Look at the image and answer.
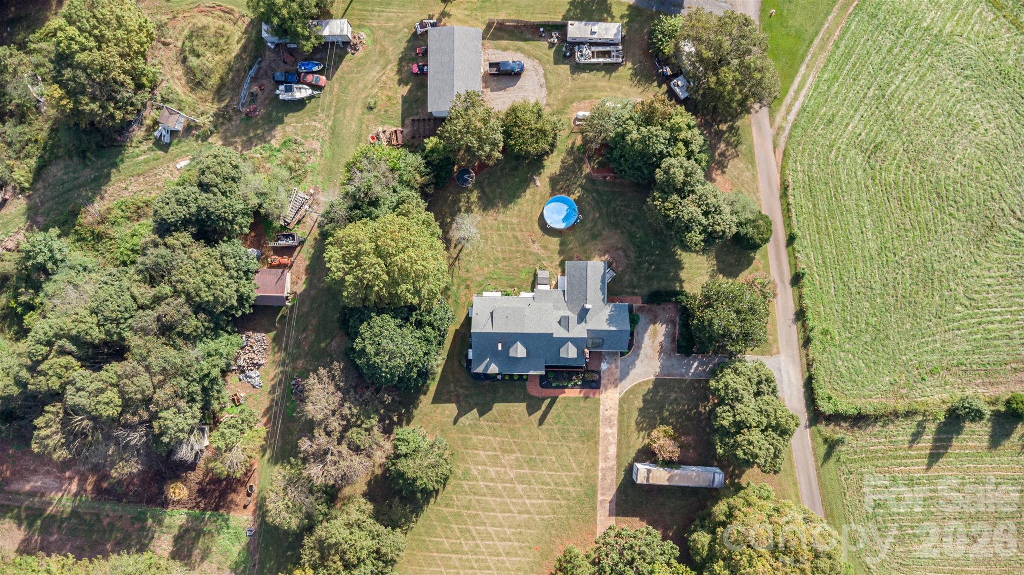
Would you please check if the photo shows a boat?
Yes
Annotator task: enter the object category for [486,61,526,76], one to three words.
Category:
vehicle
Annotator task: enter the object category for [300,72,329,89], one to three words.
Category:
car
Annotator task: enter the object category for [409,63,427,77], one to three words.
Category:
car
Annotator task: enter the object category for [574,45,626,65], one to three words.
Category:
boat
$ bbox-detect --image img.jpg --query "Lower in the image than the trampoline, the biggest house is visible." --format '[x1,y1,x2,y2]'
[468,261,630,375]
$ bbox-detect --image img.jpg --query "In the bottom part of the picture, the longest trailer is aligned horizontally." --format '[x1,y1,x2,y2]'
[630,460,726,487]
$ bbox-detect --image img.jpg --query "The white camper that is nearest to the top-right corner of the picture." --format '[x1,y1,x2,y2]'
[566,23,625,46]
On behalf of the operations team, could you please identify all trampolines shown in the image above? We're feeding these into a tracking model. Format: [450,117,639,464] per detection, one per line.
[456,168,475,186]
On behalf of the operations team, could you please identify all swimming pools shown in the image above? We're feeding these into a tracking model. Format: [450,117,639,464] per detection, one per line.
[544,195,579,230]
